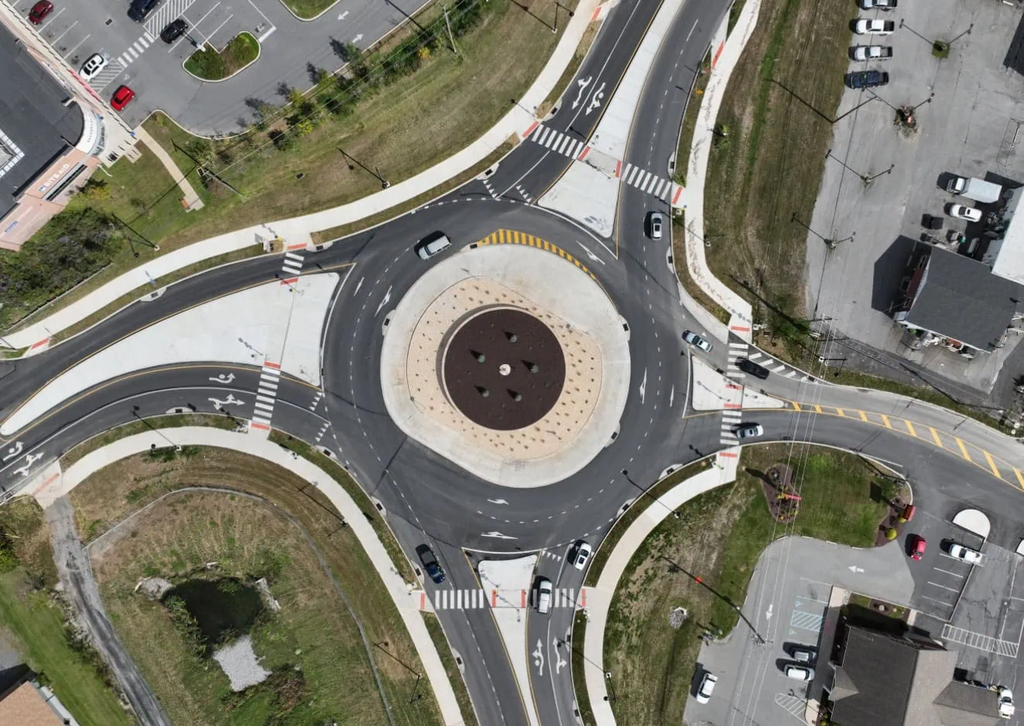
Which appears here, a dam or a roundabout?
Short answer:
roundabout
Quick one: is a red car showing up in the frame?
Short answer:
Yes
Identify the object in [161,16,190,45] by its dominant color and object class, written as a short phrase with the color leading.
black car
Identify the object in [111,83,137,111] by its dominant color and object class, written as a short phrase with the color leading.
red car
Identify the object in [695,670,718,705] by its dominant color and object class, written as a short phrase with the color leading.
white truck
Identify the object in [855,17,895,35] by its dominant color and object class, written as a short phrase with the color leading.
white vehicle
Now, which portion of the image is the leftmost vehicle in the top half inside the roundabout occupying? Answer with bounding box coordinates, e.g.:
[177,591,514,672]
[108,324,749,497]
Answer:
[416,232,453,259]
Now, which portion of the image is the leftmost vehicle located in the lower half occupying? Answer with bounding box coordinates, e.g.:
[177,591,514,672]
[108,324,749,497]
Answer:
[415,544,445,583]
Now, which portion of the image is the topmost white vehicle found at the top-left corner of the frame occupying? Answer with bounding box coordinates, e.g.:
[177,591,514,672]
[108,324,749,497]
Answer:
[79,51,109,82]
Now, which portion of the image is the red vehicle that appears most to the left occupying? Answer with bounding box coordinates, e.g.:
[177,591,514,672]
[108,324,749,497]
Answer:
[28,0,56,27]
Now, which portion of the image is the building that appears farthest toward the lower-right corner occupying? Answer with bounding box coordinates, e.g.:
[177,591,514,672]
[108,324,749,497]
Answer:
[814,623,1004,726]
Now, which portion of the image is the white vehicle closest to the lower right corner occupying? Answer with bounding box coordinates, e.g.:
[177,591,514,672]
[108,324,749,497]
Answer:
[997,684,1016,720]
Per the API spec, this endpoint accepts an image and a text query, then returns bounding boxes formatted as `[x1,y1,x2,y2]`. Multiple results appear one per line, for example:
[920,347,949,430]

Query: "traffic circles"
[321,188,692,555]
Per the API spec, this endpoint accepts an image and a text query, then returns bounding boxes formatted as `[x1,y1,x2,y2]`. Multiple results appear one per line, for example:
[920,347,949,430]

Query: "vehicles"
[785,647,818,664]
[782,664,814,682]
[736,357,771,381]
[161,16,190,45]
[682,329,715,354]
[128,0,160,25]
[573,540,592,572]
[997,684,1016,720]
[649,211,664,241]
[947,544,986,566]
[731,423,763,439]
[857,0,898,12]
[948,175,1005,201]
[695,670,718,705]
[537,579,553,614]
[111,83,137,111]
[79,51,109,82]
[907,533,927,562]
[852,44,893,62]
[948,203,982,221]
[847,69,889,89]
[855,17,895,35]
[415,544,445,583]
[416,232,453,259]
[28,0,56,27]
